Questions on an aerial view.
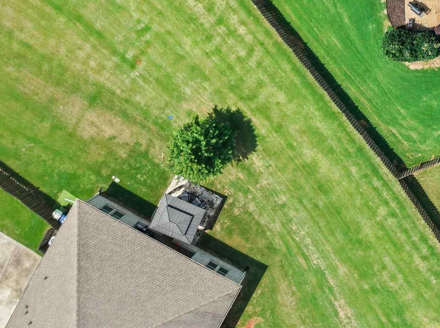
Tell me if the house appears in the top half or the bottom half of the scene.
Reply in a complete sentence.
Seen from above, the house lies in the bottom half of the view.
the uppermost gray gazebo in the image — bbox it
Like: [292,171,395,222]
[148,186,215,245]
